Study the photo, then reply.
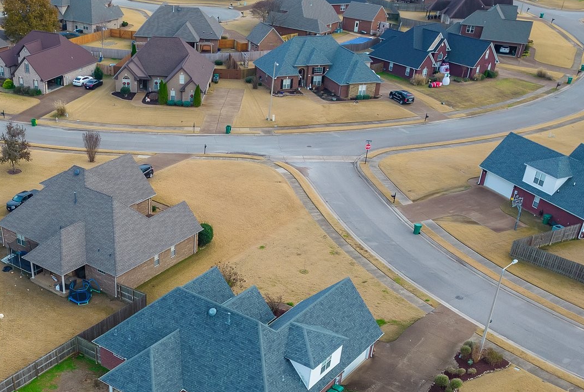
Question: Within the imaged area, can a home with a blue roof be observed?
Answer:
Yes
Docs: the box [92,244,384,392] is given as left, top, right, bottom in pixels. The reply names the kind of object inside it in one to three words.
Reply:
house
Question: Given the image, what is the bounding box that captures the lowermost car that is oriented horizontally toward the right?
[387,89,417,104]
